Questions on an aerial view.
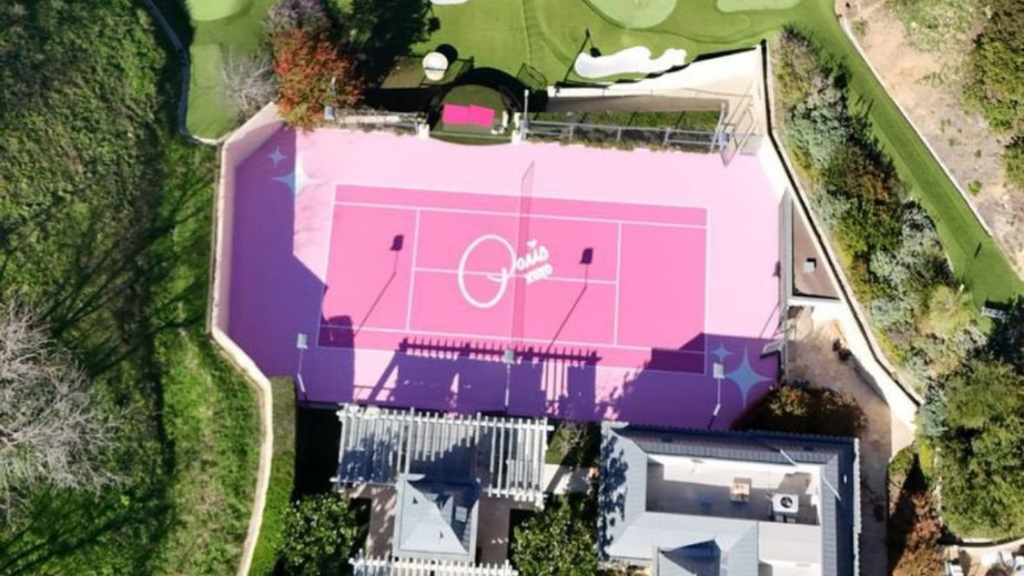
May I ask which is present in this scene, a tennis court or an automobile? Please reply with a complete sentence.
The image shows a tennis court.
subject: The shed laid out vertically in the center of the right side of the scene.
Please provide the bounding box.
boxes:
[777,189,843,327]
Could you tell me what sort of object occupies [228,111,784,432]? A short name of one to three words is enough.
tennis court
